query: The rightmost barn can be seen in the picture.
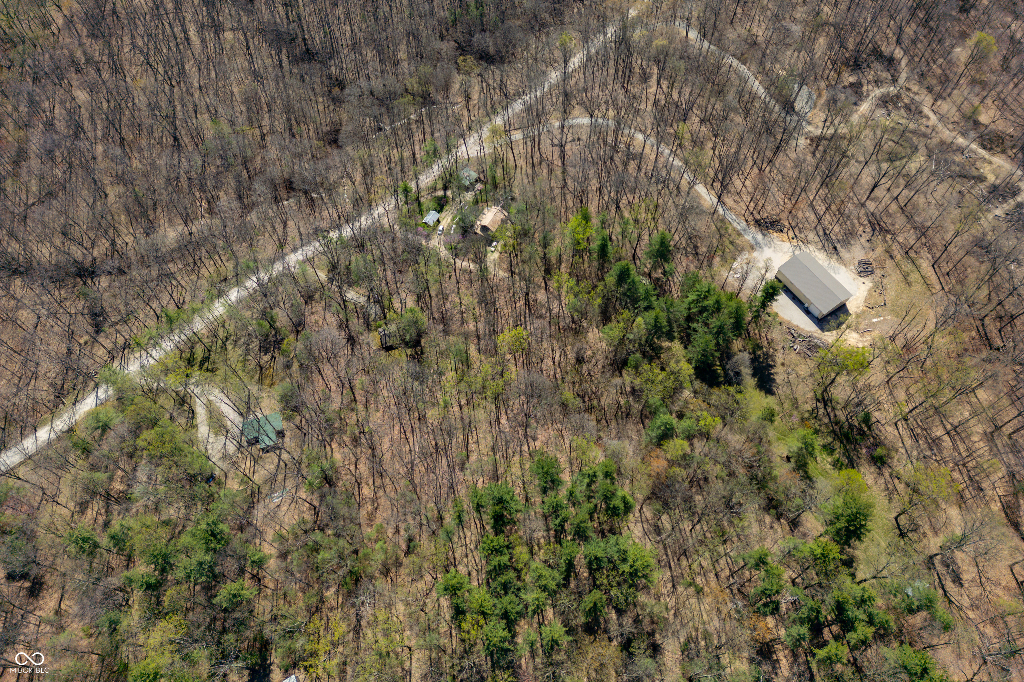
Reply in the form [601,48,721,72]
[775,251,853,320]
